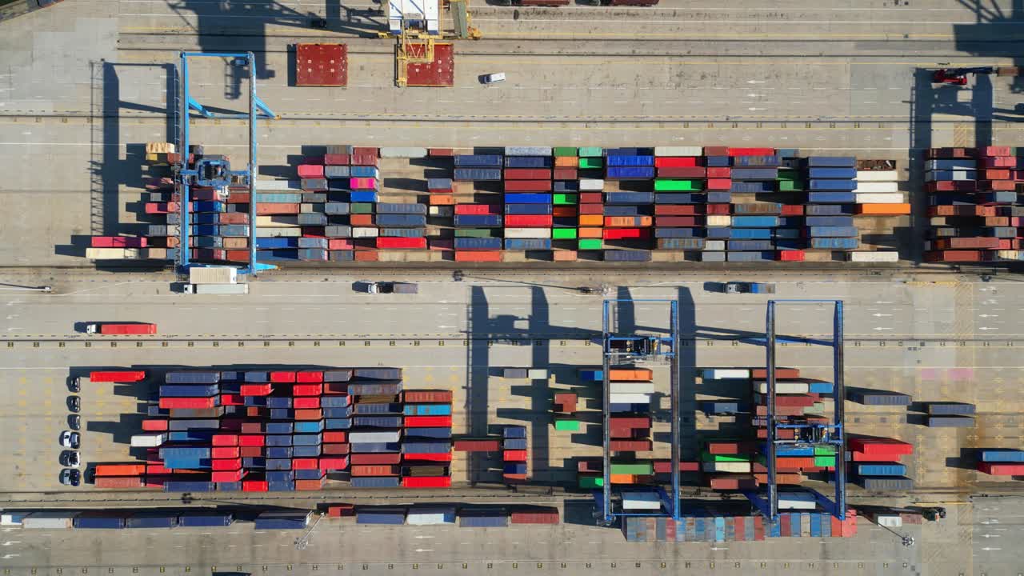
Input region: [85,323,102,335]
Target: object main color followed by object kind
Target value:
white vehicle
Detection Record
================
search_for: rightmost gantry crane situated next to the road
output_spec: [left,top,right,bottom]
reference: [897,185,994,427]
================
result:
[729,300,842,522]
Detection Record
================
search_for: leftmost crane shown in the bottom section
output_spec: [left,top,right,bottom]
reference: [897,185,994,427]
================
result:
[581,300,678,522]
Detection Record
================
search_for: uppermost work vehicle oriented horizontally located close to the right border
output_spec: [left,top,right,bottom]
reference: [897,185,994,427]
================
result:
[936,59,1012,86]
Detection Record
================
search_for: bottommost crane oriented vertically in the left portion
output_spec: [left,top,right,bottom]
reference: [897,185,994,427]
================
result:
[173,52,285,283]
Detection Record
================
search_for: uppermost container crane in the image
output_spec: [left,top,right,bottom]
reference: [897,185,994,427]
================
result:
[374,0,480,86]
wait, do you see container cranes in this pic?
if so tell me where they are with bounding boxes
[581,300,678,522]
[729,300,842,522]
[374,0,480,86]
[173,52,285,283]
